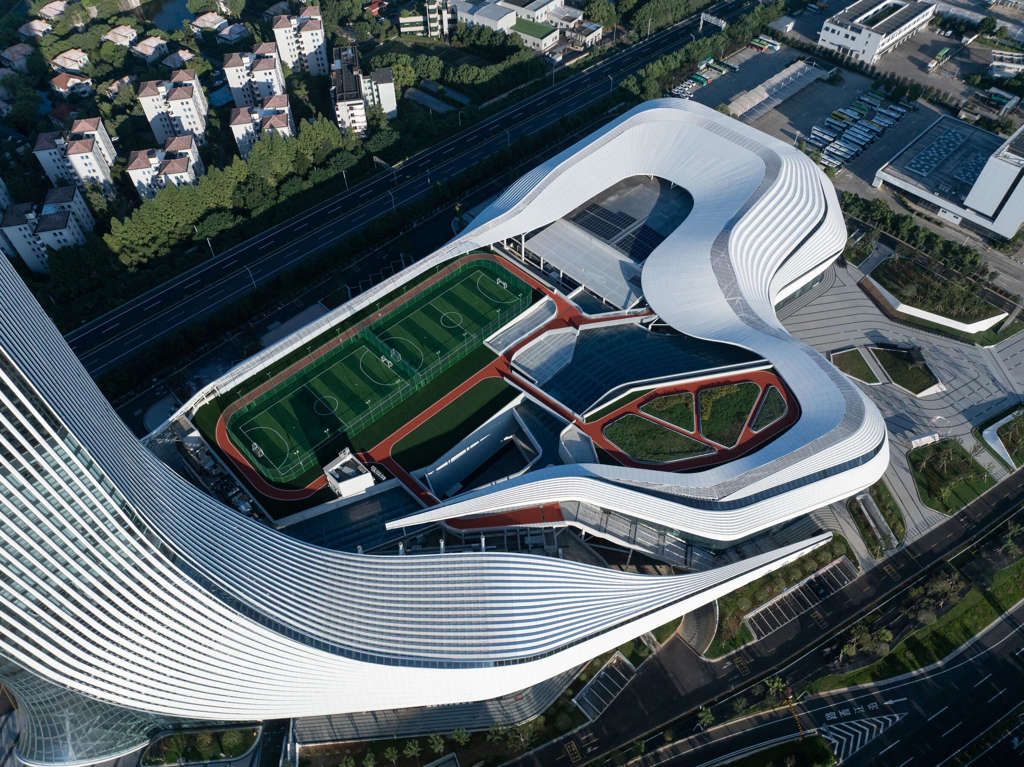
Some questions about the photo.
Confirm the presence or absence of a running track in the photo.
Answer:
Yes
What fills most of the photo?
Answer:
buildings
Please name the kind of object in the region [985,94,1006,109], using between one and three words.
vehicle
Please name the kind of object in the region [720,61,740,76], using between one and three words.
vehicle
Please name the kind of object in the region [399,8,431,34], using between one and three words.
building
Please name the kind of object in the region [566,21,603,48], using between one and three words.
building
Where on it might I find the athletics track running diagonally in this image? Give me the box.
[216,254,553,499]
